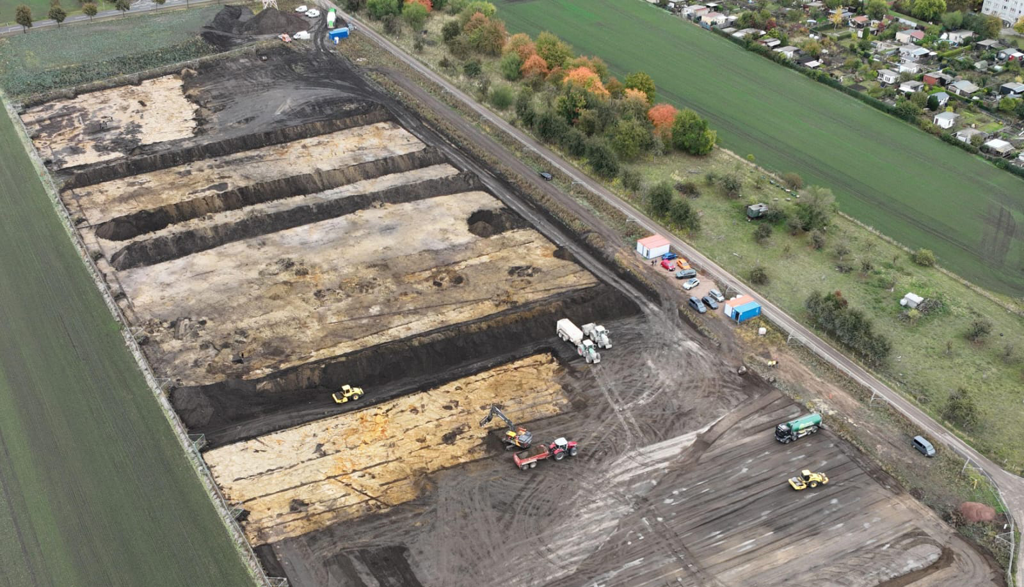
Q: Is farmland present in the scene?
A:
Yes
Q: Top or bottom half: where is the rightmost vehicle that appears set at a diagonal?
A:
bottom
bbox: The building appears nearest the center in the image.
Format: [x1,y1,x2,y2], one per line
[637,234,669,259]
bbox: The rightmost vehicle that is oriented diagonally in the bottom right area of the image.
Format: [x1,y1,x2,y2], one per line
[909,434,936,456]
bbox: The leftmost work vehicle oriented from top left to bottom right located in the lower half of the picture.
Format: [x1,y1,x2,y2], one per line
[477,407,531,451]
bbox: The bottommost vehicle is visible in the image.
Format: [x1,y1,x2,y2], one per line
[790,470,826,490]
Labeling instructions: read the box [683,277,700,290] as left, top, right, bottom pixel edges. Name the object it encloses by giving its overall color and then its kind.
white vehicle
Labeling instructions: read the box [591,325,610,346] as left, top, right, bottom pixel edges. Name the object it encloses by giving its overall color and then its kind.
white work vehicle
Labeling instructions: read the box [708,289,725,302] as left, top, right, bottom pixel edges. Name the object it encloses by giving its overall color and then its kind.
white vehicle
